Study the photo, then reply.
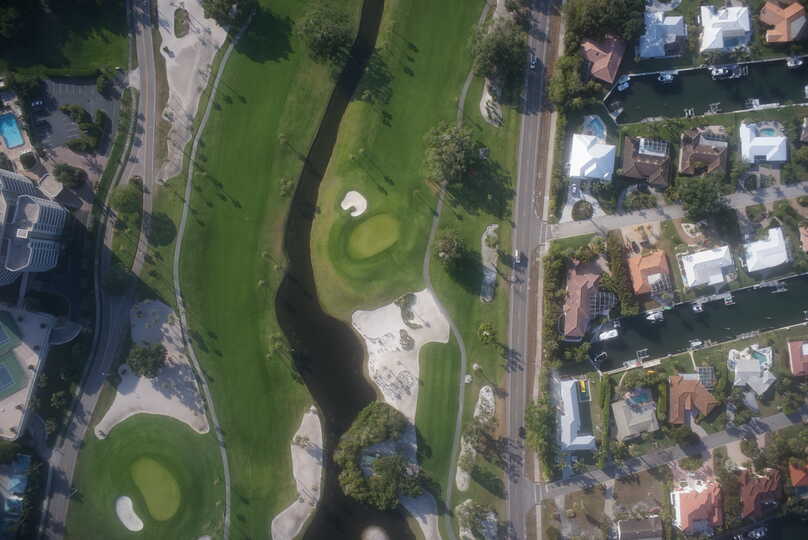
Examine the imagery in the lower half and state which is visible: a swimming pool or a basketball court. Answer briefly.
swimming pool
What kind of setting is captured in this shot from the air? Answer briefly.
golf course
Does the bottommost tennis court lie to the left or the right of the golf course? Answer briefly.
left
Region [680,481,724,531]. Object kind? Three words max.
house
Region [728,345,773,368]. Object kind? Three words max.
swimming pool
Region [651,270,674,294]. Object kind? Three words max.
swimming pool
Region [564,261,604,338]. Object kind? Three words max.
house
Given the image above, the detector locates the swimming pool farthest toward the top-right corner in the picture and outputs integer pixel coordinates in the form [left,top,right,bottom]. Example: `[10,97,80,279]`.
[721,30,752,50]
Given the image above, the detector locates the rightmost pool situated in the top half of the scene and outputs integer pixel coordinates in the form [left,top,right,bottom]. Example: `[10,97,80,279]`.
[754,120,785,137]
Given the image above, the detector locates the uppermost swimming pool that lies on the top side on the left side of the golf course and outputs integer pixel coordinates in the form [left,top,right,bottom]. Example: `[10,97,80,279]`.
[0,98,35,168]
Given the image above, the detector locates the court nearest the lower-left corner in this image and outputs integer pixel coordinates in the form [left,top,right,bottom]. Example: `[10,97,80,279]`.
[0,354,28,397]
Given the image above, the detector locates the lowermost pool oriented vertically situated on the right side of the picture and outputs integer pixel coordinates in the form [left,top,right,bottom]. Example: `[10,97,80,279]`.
[577,378,593,436]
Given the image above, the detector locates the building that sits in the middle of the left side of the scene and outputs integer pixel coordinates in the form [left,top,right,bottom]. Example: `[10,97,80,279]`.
[0,163,67,287]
